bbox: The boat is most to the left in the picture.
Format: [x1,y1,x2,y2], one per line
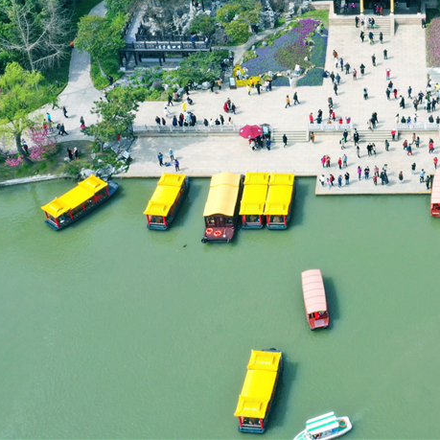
[39,175,113,236]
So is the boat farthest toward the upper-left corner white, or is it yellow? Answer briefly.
yellow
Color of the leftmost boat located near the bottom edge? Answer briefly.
yellow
